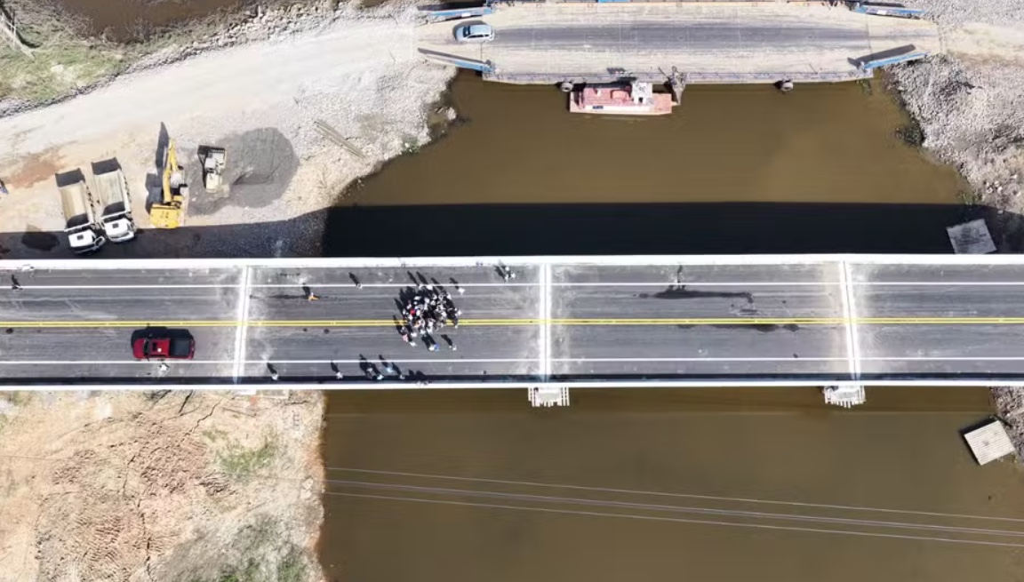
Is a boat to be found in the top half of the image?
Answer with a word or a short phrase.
Yes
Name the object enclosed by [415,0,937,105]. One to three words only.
ship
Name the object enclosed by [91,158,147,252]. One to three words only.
truck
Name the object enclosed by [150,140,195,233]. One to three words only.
work vehicle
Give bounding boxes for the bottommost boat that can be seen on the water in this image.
[569,82,676,115]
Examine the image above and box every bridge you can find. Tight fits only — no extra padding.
[0,254,1024,406]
